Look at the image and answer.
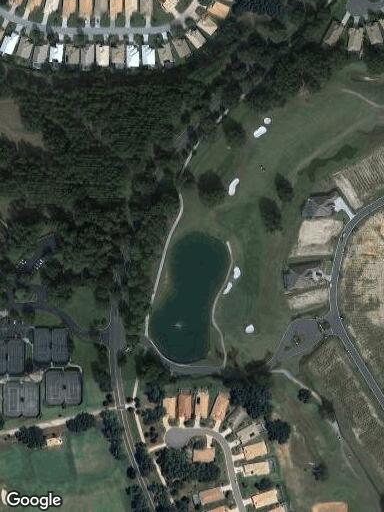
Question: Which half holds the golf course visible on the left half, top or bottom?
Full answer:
It is in the bottom half that the golf course visible on the left half appears.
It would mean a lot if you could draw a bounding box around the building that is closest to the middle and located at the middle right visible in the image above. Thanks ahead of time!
[282,264,319,291]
